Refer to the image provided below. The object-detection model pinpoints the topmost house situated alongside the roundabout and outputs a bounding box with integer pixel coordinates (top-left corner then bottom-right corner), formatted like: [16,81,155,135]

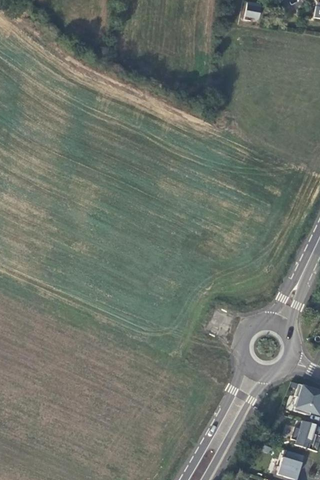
[288,382,320,417]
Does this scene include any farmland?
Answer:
Yes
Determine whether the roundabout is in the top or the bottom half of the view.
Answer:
bottom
